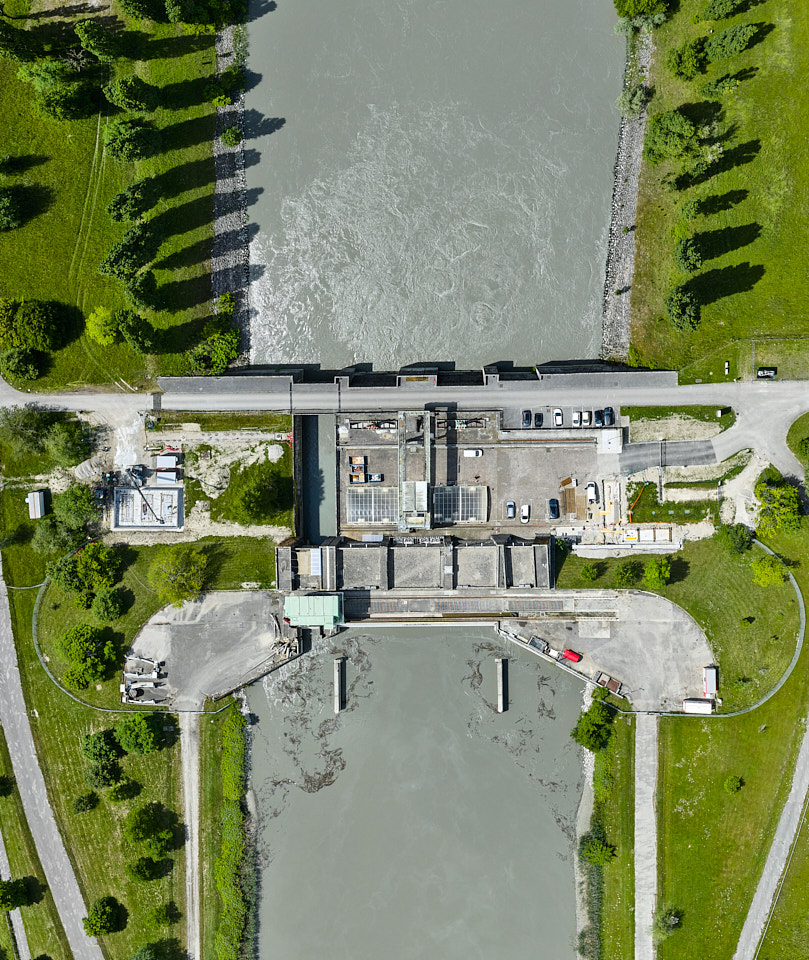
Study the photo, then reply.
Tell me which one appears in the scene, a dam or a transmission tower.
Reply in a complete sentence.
I can see a dam in this picture.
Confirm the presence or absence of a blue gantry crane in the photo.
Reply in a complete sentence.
No, I can't see a single blue gantry crane in this photo.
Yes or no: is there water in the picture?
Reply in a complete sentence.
Yes, there's water in this view.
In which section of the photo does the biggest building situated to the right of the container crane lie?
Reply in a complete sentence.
The biggest building situated to the right of the container crane is in the right part of the image.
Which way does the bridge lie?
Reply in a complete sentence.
The bridge is oriented from left to right.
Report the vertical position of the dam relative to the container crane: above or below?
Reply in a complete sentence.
Relative to the container crane, the dam lies below it.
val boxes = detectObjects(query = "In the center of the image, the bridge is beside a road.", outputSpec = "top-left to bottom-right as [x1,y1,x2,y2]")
[157,366,679,414]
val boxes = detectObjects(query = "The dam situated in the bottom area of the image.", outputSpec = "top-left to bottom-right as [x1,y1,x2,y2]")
[276,534,619,628]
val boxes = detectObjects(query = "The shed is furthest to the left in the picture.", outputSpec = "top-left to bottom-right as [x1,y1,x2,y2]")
[23,491,45,519]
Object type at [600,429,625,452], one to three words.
building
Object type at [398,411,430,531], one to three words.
container crane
